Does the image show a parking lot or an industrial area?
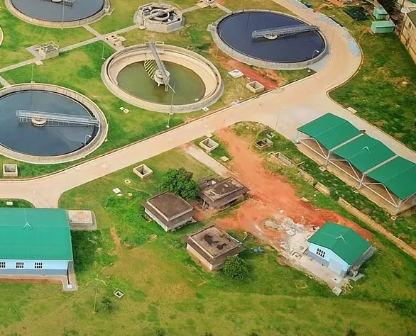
industrial area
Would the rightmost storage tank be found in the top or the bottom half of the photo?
top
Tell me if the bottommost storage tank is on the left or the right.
left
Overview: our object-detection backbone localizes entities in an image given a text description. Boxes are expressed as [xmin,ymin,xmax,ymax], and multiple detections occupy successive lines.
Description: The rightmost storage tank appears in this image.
[202,3,327,67]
